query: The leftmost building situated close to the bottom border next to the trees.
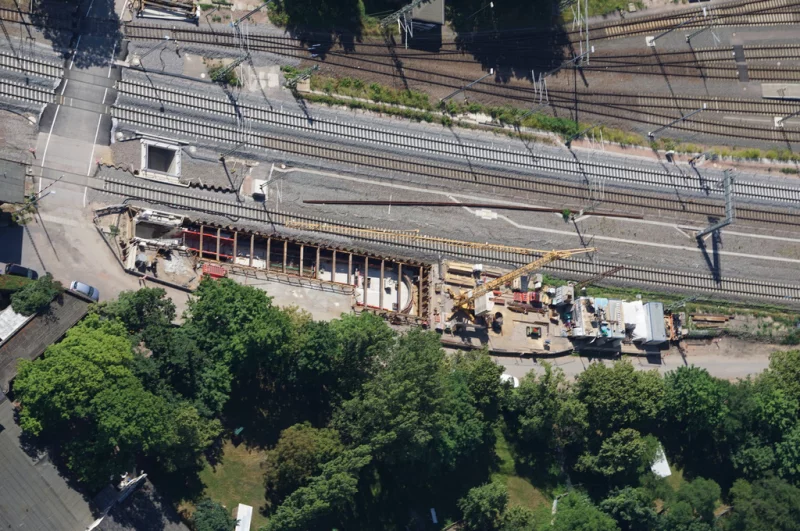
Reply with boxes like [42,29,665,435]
[0,391,96,531]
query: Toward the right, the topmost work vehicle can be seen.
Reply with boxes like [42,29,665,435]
[527,323,545,343]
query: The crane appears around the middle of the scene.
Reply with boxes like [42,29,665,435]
[280,219,594,326]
